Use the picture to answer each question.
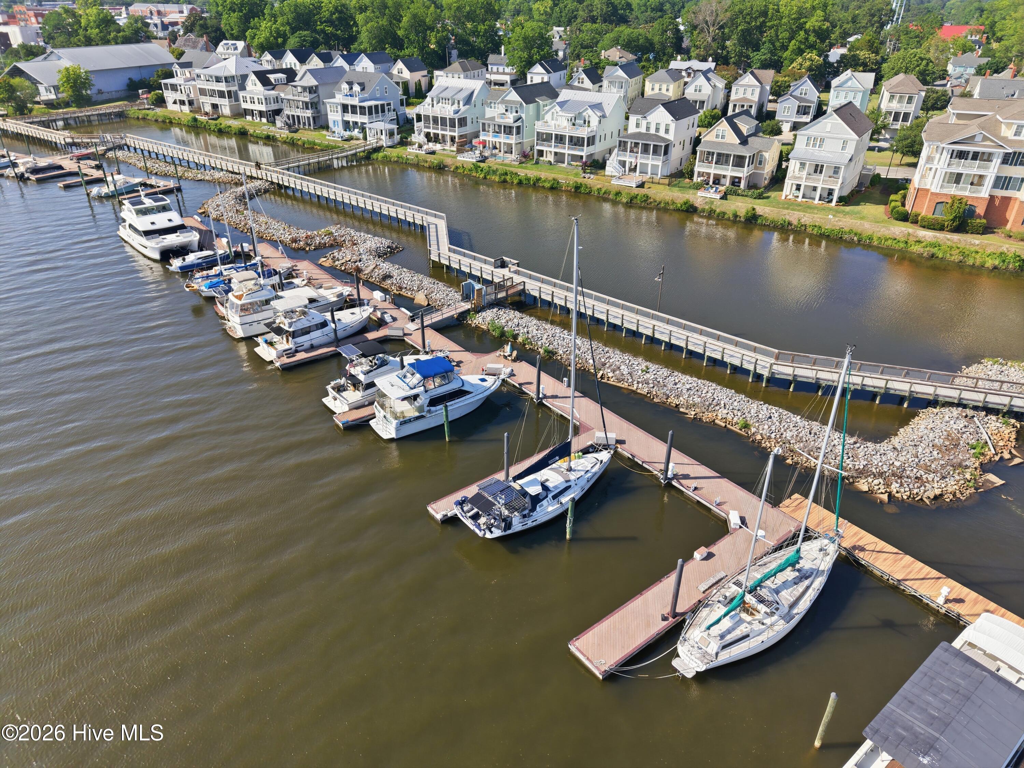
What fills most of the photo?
water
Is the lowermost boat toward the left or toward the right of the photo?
right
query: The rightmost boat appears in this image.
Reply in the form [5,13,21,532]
[830,610,1024,768]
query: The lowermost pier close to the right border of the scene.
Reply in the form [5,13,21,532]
[786,493,1024,631]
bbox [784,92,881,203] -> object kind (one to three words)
house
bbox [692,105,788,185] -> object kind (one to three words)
house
